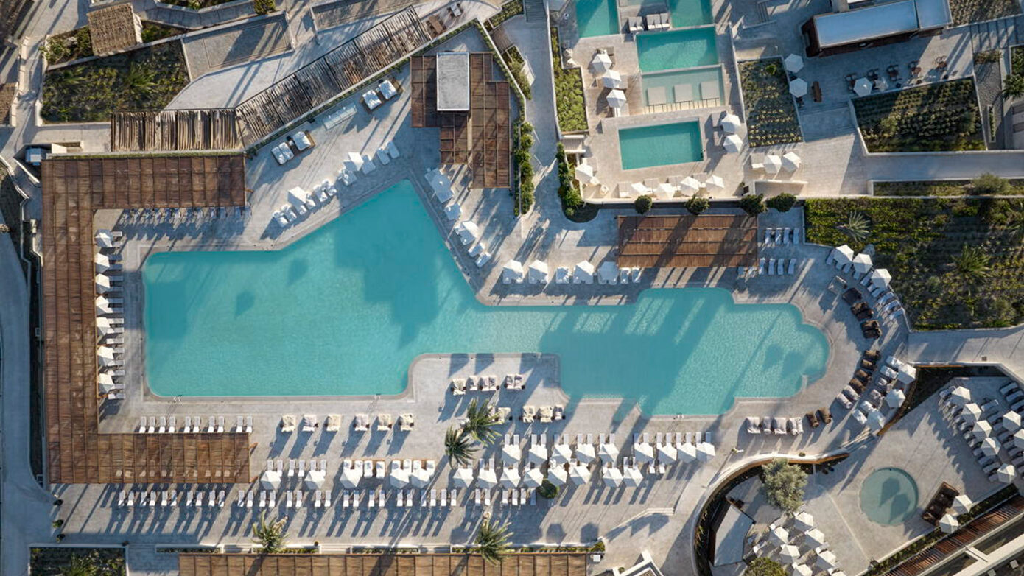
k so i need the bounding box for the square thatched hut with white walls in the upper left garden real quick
[86,1,145,59]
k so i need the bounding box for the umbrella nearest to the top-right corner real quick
[851,78,871,97]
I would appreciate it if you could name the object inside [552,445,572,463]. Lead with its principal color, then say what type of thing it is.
white umbrella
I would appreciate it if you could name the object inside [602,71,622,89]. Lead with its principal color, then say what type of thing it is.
white umbrella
